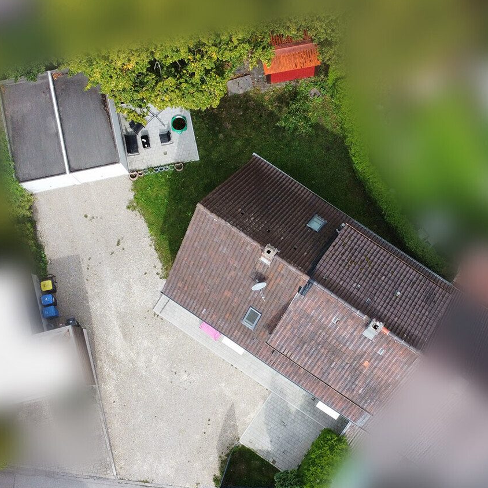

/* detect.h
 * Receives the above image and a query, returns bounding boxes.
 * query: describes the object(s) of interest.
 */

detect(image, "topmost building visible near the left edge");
[0,64,130,193]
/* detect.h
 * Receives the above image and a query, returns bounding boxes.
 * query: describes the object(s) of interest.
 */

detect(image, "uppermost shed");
[259,31,321,84]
